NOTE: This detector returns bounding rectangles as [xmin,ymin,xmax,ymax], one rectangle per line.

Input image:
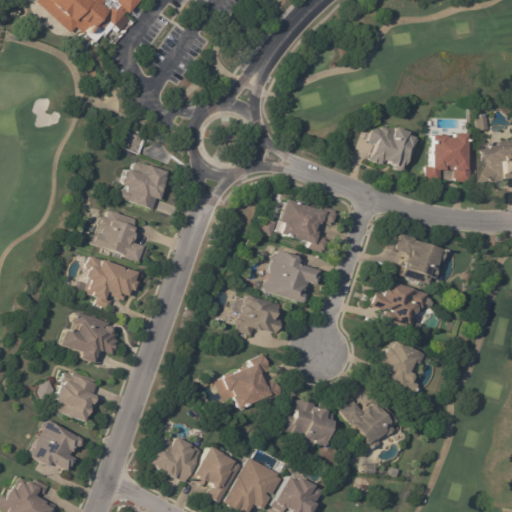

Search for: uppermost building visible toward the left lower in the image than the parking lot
[117,161,168,210]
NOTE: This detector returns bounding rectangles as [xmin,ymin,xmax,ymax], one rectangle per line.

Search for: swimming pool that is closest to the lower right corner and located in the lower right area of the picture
[378,444,400,461]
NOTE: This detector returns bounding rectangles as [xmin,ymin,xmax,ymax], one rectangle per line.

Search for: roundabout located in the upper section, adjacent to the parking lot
[190,80,288,210]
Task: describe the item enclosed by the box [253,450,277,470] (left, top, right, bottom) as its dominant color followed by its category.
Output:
blue swimming pool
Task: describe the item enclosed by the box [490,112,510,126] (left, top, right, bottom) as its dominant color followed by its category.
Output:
blue swimming pool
